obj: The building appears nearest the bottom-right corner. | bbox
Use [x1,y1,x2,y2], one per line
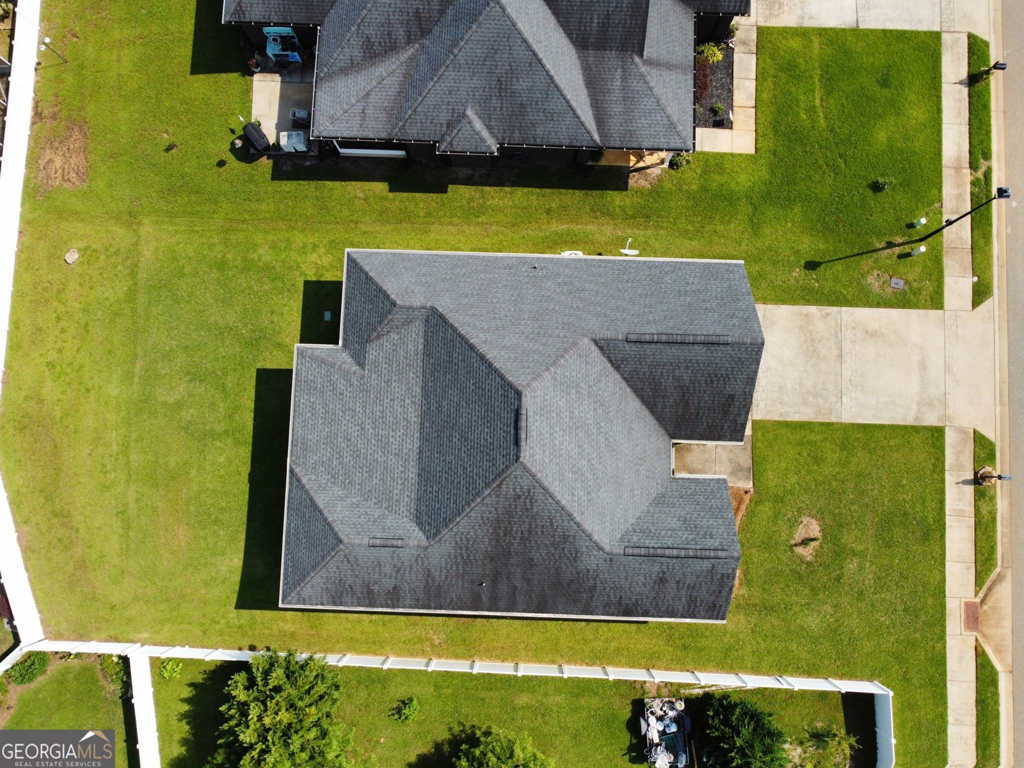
[279,248,764,623]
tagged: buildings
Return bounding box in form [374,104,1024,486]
[279,248,764,623]
[222,0,753,168]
